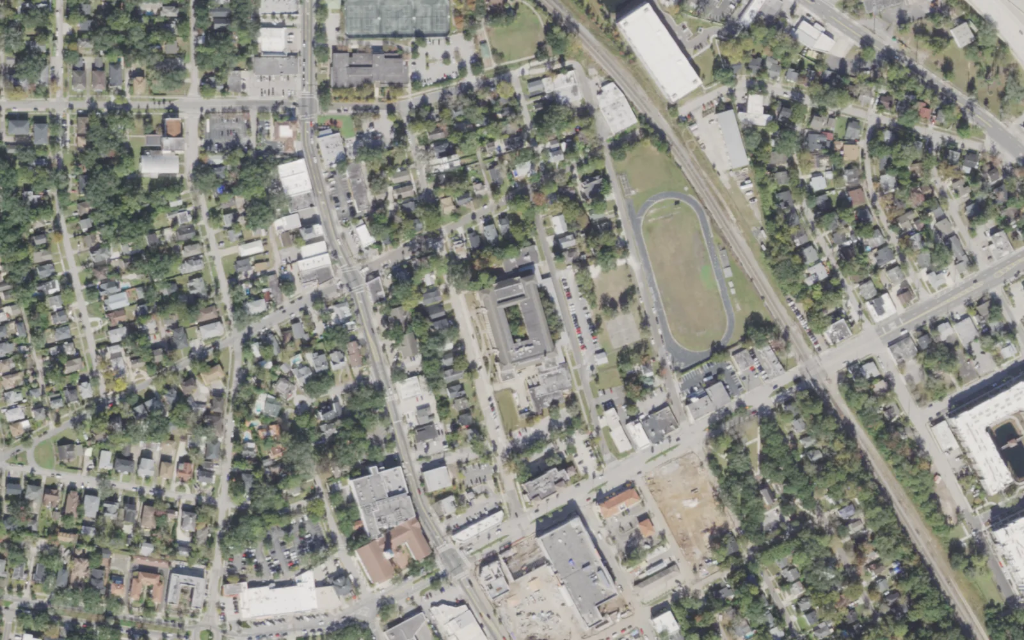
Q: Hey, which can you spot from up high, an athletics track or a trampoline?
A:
athletics track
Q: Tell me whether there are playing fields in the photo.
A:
Yes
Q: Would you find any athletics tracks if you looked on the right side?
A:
Yes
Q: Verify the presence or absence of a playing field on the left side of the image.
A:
No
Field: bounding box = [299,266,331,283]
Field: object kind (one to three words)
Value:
building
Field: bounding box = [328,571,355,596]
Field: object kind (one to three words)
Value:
house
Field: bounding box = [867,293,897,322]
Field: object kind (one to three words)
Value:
building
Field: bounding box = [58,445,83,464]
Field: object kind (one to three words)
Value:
house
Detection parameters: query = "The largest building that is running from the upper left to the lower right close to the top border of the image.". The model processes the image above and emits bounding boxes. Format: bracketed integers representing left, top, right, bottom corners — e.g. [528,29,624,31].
[617,2,703,102]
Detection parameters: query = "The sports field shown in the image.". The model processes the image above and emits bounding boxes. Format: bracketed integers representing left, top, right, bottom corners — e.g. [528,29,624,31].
[642,199,727,351]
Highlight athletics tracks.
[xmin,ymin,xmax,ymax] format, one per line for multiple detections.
[627,191,735,370]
